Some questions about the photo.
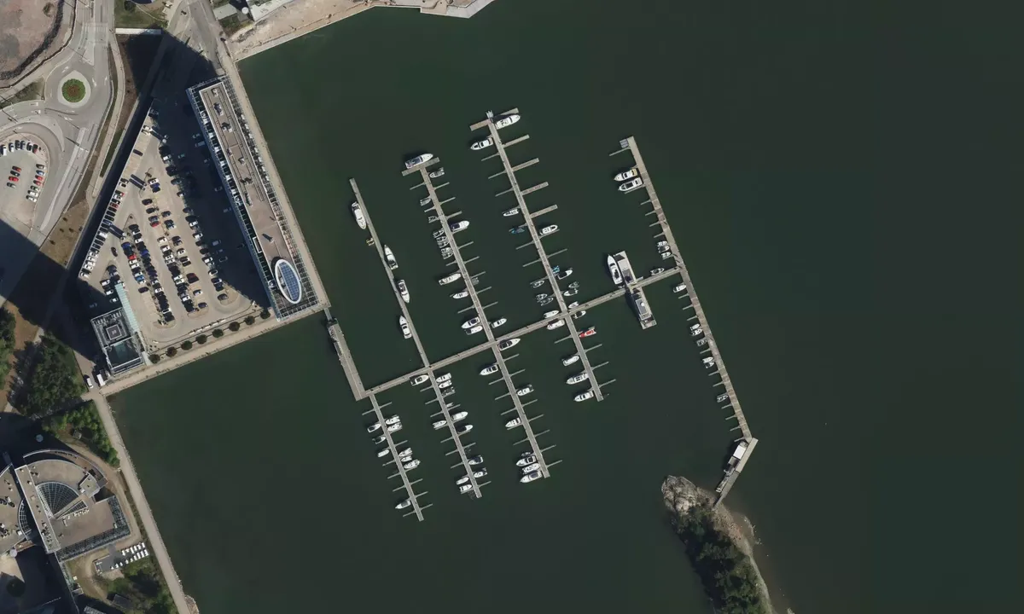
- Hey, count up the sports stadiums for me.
0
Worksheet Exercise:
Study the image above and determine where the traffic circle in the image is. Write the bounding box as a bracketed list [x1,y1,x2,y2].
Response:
[57,69,90,104]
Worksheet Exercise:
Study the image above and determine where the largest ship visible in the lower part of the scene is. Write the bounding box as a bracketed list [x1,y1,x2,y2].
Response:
[716,441,748,493]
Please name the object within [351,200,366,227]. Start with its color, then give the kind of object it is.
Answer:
white boat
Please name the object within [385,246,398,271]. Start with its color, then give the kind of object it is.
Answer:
white boat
